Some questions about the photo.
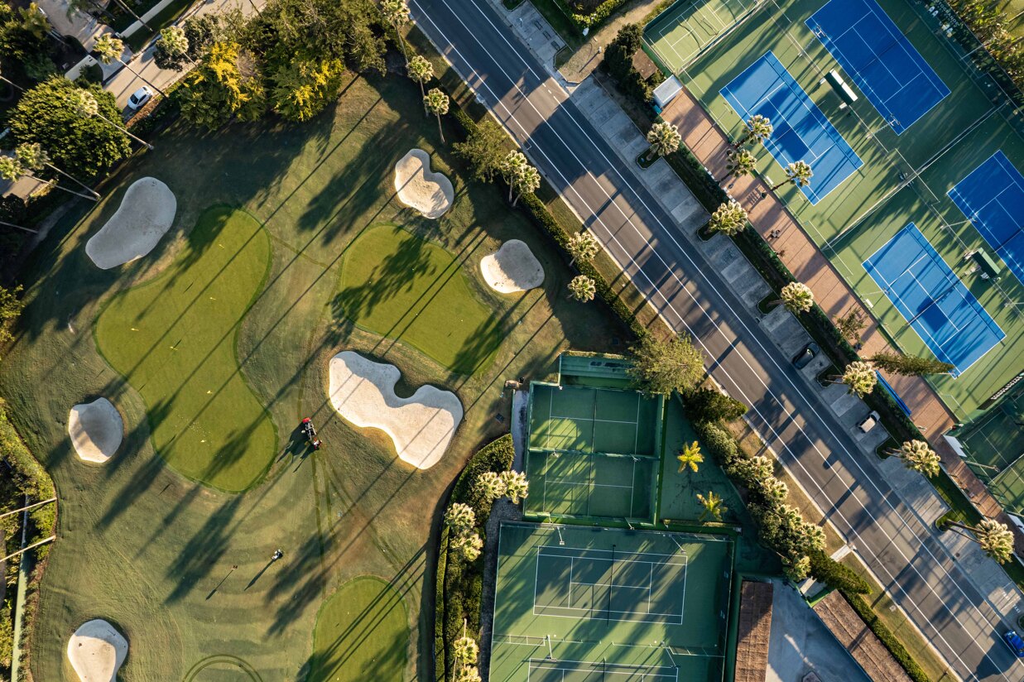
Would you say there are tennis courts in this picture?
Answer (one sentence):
Yes, there's a tennis court here.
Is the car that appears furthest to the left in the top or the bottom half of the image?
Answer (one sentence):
Seen from above, the car that appears furthest to the left lies in the top half of the view.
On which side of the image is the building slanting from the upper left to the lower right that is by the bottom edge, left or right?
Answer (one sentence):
It is on the right.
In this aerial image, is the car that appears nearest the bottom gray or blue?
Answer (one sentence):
The color of the car that appears nearest the bottom is blue.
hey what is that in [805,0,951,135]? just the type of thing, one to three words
tennis court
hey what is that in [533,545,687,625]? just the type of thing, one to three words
tennis court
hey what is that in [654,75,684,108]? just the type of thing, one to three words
shed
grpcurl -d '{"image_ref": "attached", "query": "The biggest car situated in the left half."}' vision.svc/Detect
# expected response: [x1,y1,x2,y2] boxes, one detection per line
[129,87,153,110]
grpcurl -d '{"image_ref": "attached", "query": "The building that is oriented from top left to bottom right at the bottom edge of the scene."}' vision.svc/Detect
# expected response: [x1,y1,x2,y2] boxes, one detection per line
[807,588,908,682]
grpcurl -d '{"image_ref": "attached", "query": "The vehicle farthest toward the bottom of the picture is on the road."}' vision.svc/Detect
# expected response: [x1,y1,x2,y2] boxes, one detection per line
[1002,630,1024,657]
